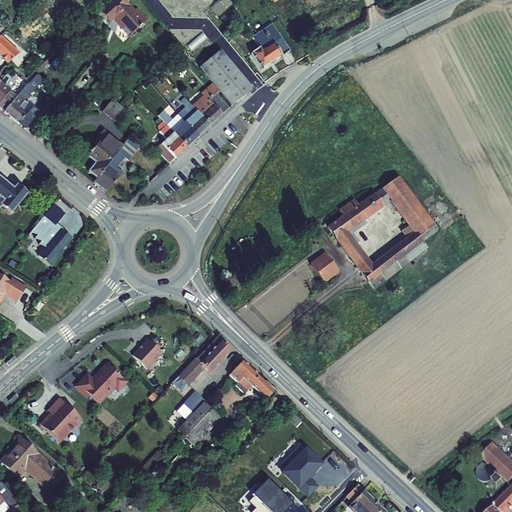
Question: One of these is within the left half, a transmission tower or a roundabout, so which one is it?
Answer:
roundabout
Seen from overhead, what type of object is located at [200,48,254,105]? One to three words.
building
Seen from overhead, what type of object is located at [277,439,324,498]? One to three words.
house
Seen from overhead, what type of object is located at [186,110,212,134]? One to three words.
house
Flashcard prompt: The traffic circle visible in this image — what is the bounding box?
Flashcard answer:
[84,167,242,330]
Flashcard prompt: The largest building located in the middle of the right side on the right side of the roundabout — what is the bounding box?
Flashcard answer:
[326,176,439,286]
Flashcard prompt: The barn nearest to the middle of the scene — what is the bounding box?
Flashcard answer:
[309,251,340,282]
